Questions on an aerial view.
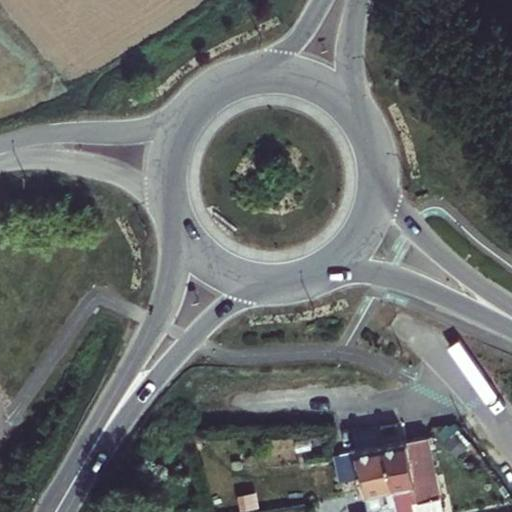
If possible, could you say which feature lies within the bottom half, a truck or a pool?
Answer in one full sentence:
What appears within the bottom half is a truck.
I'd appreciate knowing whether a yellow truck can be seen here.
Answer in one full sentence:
No, the frame has no yellow truck in it.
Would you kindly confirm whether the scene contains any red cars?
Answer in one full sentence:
No, the frame has no red car in it.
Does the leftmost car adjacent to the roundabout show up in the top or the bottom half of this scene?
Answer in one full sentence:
Seen from above, the leftmost car adjacent to the roundabout lies in the bottom half of the view.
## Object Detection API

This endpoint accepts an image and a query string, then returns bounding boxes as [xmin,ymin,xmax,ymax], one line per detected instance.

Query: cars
[184,218,200,240]
[308,400,330,410]
[404,214,422,237]
[329,270,352,281]
[214,299,234,318]
[342,426,353,449]
[501,465,512,488]
[138,380,157,402]
[90,452,108,475]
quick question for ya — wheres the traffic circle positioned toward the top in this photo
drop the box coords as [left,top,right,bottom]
[62,0,480,370]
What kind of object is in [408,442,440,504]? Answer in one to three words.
house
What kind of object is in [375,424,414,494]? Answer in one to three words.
house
